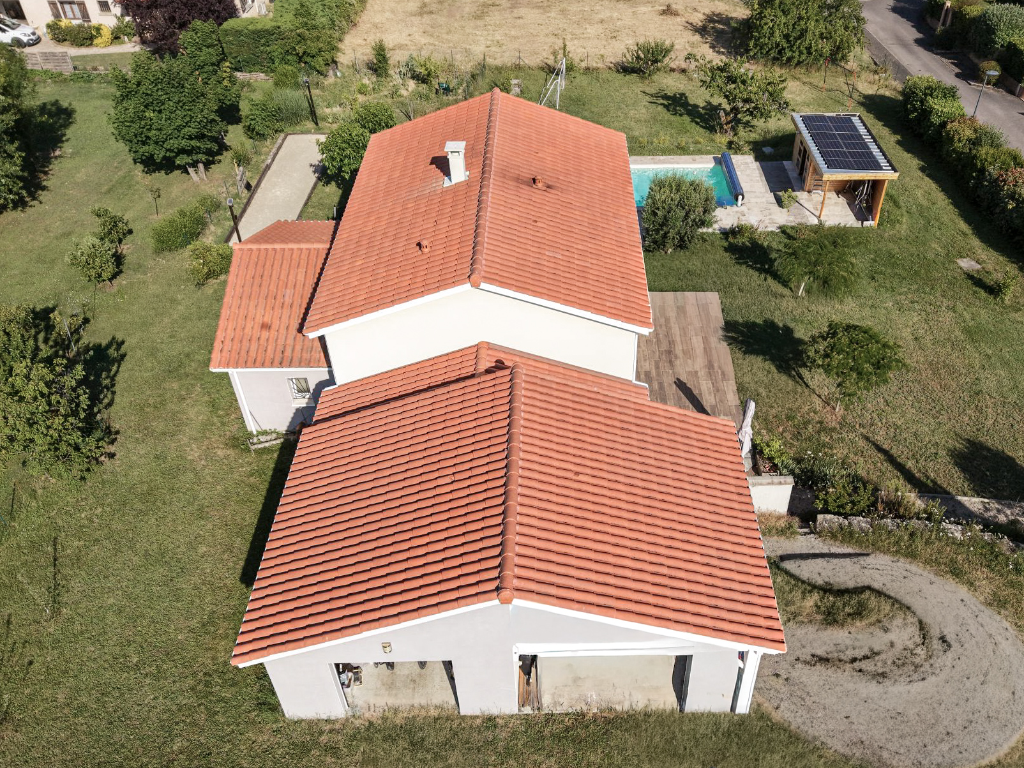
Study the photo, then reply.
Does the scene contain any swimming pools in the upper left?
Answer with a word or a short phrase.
No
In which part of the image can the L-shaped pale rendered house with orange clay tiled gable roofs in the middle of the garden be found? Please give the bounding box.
[205,89,789,715]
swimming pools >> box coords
[630,162,742,208]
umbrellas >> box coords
[741,403,759,462]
